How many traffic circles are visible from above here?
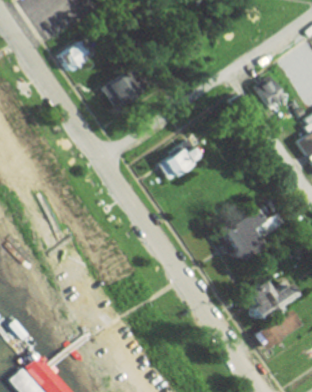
0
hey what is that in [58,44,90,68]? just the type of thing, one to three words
house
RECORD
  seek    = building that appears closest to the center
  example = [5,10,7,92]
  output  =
[159,144,204,180]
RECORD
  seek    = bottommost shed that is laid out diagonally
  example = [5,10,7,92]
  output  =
[261,312,300,346]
